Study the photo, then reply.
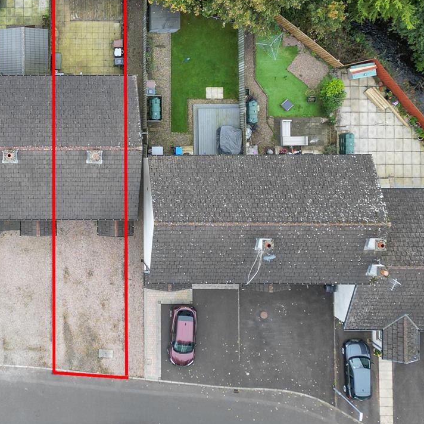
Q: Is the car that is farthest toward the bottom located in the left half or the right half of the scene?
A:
right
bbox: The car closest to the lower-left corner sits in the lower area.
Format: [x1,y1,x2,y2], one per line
[167,305,199,364]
